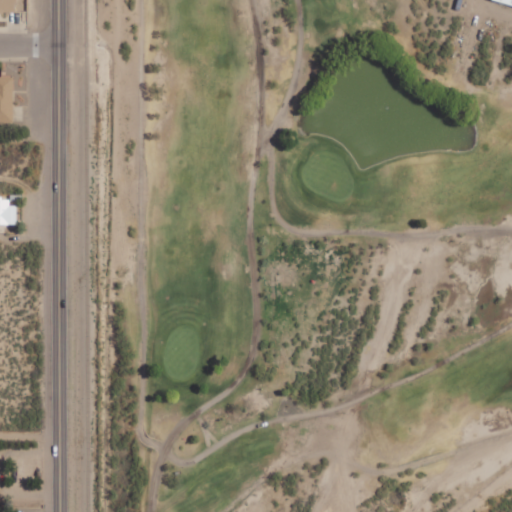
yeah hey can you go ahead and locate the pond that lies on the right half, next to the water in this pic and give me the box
[299,46,476,168]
